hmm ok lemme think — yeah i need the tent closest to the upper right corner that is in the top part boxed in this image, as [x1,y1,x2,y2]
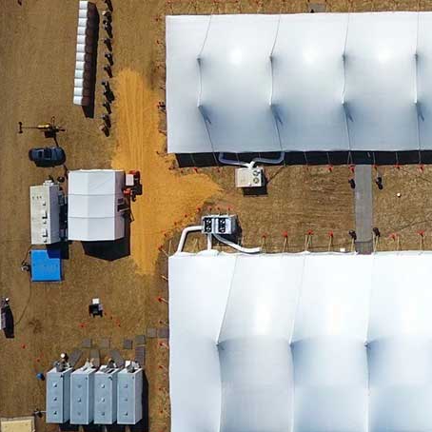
[157,1,432,172]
